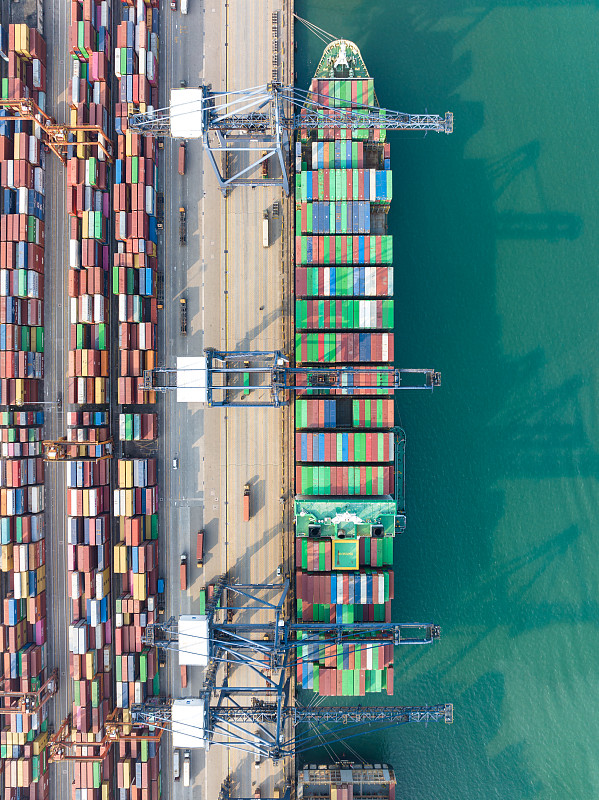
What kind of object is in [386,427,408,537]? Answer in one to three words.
ship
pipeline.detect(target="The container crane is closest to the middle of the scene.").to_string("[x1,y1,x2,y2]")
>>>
[136,345,444,414]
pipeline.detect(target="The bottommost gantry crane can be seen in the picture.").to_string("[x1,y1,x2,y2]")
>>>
[212,762,291,800]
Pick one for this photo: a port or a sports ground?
port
